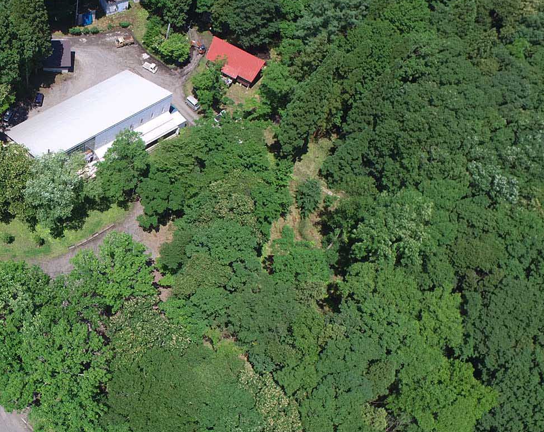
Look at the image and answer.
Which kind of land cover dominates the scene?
trees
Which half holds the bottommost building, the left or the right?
left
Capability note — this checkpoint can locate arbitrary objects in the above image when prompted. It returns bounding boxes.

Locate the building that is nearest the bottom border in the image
[5,69,186,181]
